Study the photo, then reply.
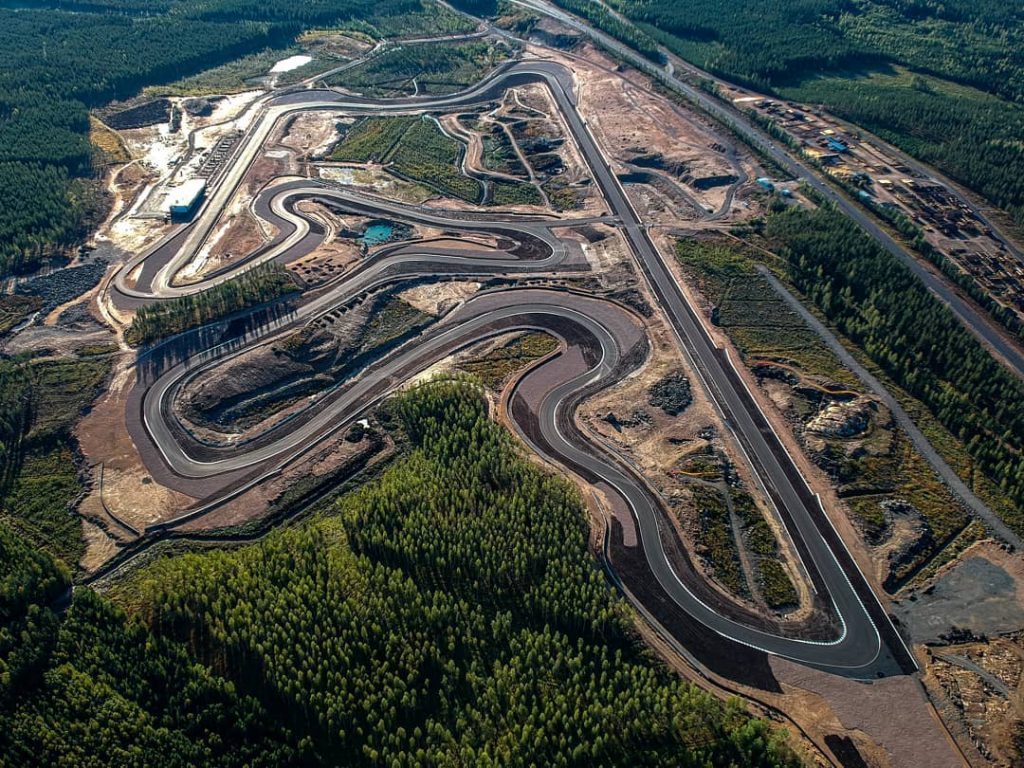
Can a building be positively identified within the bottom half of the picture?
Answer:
No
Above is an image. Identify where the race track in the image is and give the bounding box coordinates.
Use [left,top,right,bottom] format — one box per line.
[144,70,880,667]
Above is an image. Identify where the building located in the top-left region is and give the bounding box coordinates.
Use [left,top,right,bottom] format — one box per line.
[170,179,208,214]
